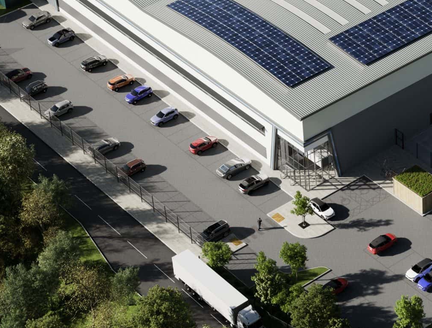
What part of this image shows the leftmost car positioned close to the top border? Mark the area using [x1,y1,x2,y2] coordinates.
[25,11,51,29]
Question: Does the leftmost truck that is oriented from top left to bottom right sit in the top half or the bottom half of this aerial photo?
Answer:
bottom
